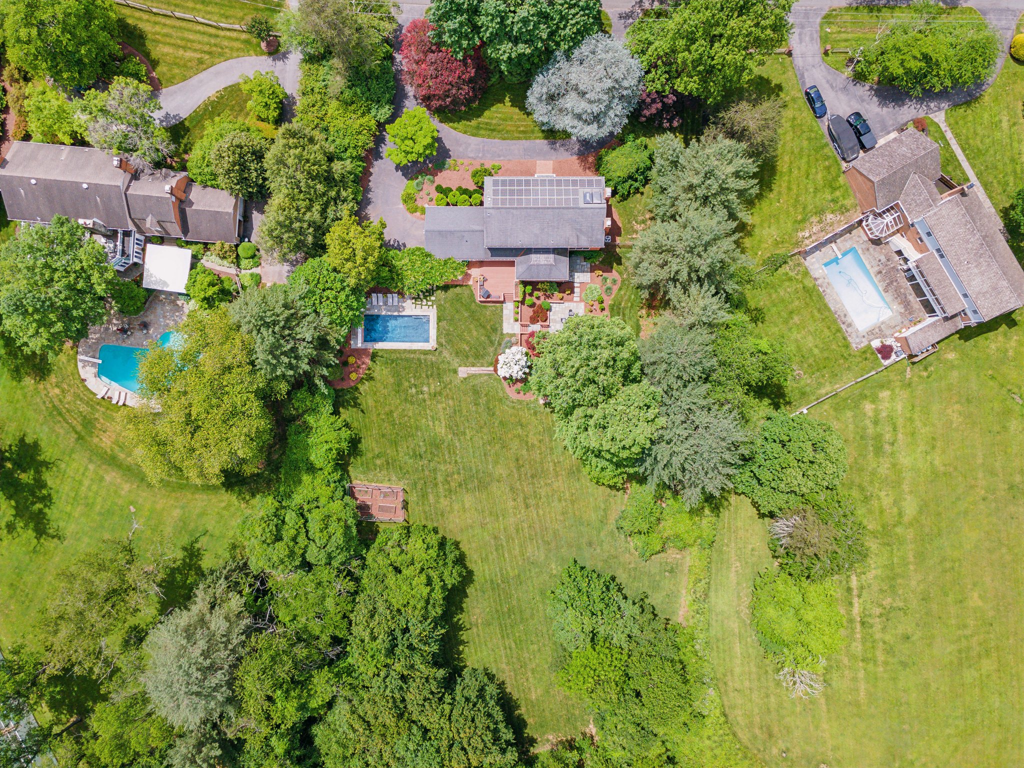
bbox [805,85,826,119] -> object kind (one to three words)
car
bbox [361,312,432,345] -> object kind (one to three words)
swimming pool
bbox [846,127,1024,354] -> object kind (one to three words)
house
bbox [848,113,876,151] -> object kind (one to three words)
truck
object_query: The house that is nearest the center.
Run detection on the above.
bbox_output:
[425,174,611,281]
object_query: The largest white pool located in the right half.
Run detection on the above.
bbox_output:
[819,243,896,336]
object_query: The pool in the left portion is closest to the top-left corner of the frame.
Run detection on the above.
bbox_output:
[97,330,204,403]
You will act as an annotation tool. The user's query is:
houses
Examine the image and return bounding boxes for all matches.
[846,127,1024,354]
[425,174,611,281]
[0,141,246,245]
